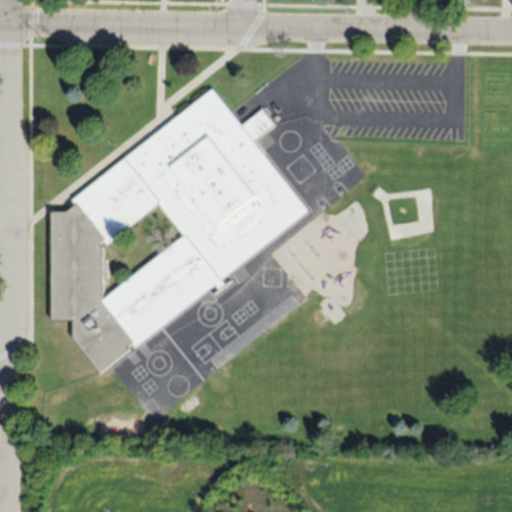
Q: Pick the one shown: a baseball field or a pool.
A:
baseball field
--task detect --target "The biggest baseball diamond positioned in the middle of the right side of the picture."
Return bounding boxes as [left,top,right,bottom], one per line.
[374,187,434,240]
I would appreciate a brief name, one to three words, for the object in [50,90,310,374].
building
